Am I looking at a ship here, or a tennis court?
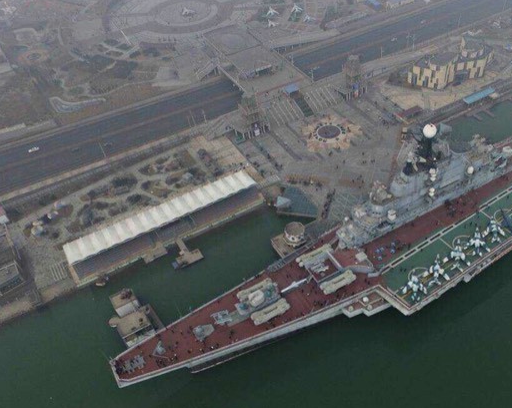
ship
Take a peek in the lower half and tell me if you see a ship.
Yes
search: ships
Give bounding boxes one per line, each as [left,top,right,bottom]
[99,119,512,383]
[108,288,163,347]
